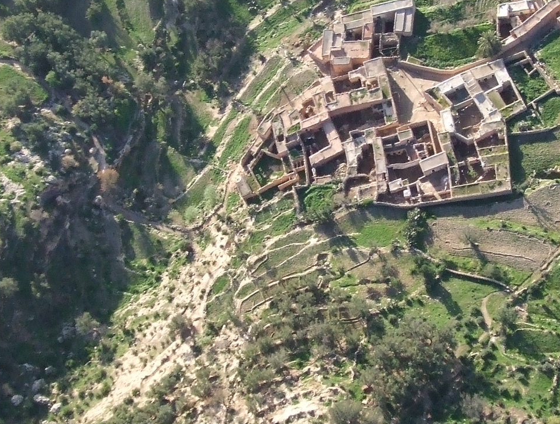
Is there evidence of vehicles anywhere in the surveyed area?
No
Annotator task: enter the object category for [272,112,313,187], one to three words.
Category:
house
